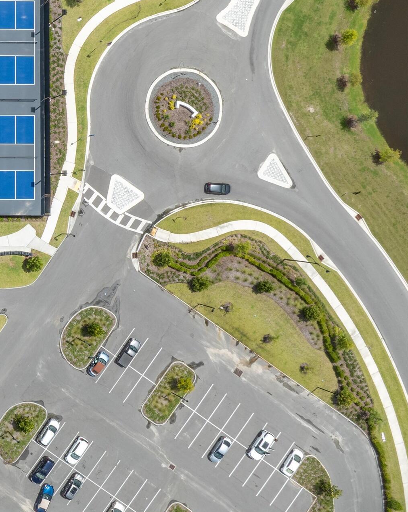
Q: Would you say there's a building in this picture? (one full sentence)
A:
No, this view has no building in it.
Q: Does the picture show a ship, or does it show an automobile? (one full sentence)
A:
The image shows an automobile.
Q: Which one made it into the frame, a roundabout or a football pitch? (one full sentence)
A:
The image shows a roundabout.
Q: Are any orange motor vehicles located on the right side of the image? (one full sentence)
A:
No, there's no orange motor vehicle to be seen on the right side of the image.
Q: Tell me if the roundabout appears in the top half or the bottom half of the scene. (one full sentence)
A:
It is in the top half that the roundabout appears.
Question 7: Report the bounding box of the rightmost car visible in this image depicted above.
[281,449,306,479]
